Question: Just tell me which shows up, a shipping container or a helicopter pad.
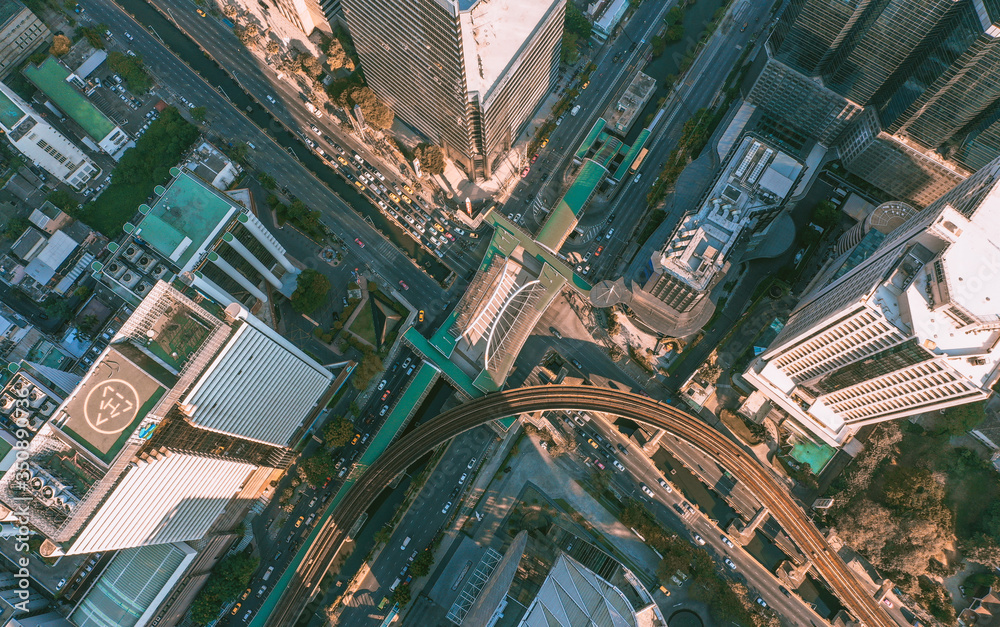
helicopter pad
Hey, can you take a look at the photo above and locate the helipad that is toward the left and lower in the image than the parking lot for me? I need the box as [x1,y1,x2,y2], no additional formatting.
[52,346,167,467]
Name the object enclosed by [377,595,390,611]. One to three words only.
vehicle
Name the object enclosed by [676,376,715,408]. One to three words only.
house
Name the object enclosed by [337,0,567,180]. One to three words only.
building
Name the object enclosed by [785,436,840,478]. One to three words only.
swimming pool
